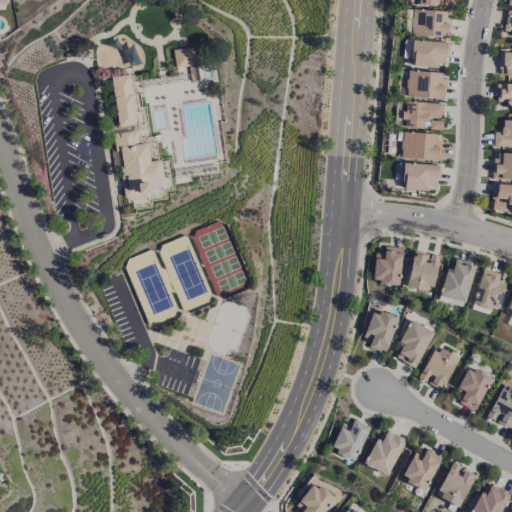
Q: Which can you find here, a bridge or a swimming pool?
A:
swimming pool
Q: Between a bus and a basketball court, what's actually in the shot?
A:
basketball court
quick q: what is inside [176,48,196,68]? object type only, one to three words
building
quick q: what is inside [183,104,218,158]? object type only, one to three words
swimming pool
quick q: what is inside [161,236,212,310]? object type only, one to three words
tennis court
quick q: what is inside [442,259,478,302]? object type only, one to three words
house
